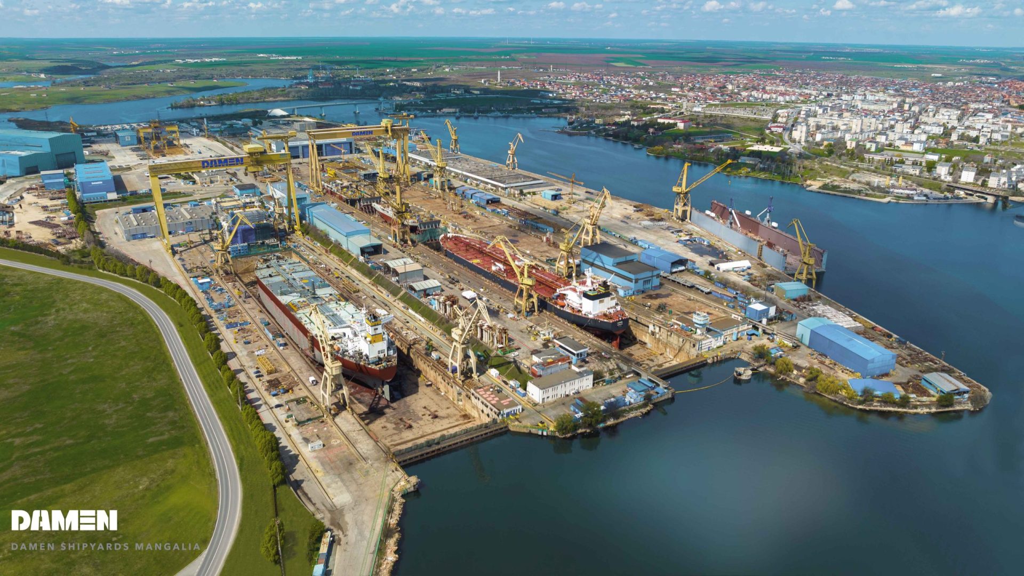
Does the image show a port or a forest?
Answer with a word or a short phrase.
port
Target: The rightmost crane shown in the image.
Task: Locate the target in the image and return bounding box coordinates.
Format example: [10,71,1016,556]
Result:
[785,218,823,283]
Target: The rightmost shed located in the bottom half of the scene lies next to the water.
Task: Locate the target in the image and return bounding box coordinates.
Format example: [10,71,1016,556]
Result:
[906,354,974,400]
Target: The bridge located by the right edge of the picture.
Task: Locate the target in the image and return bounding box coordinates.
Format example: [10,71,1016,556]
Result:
[926,177,1024,203]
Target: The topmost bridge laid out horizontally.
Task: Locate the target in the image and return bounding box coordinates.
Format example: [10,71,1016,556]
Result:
[263,96,500,117]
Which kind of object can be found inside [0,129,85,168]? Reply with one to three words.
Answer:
building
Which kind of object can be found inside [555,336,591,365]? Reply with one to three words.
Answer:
building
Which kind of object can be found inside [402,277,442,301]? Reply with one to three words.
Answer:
shed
